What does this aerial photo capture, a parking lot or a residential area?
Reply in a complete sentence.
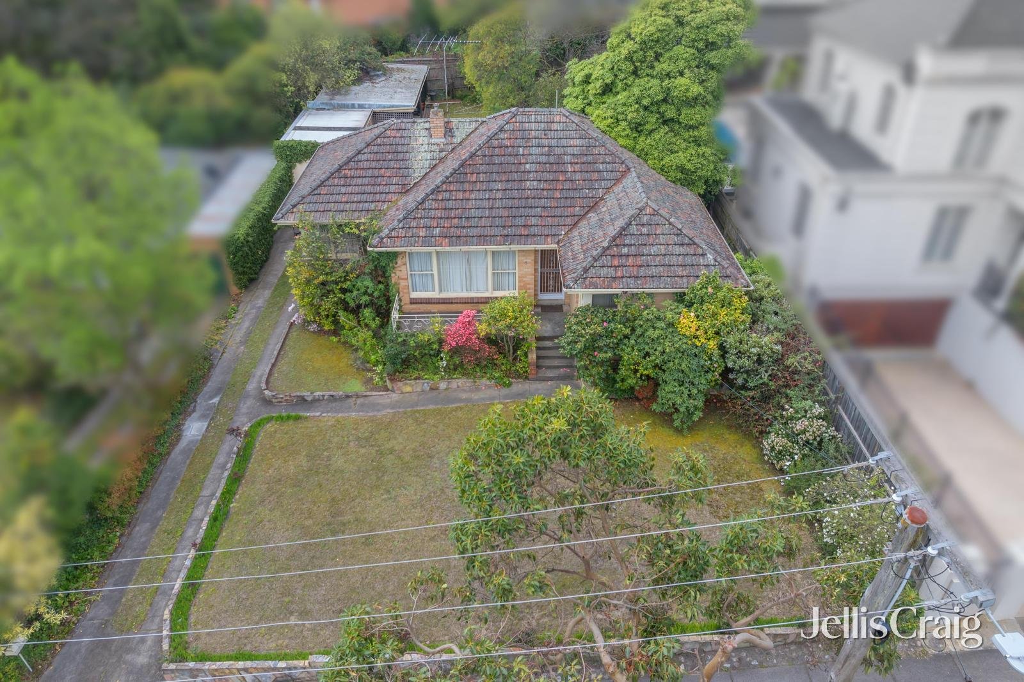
What you see here is a residential area.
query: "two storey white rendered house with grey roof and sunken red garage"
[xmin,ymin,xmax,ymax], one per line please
[740,0,1024,342]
